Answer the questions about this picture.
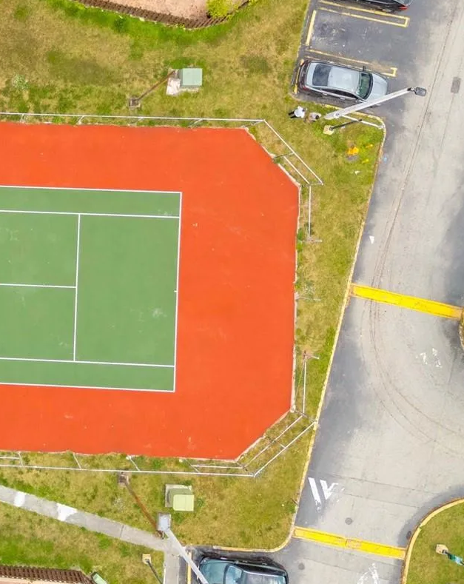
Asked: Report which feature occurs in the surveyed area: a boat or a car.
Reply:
car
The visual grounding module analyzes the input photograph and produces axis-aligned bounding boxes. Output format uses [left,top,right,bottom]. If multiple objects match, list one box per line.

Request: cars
[327,0,413,13]
[294,58,386,103]
[194,555,287,584]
